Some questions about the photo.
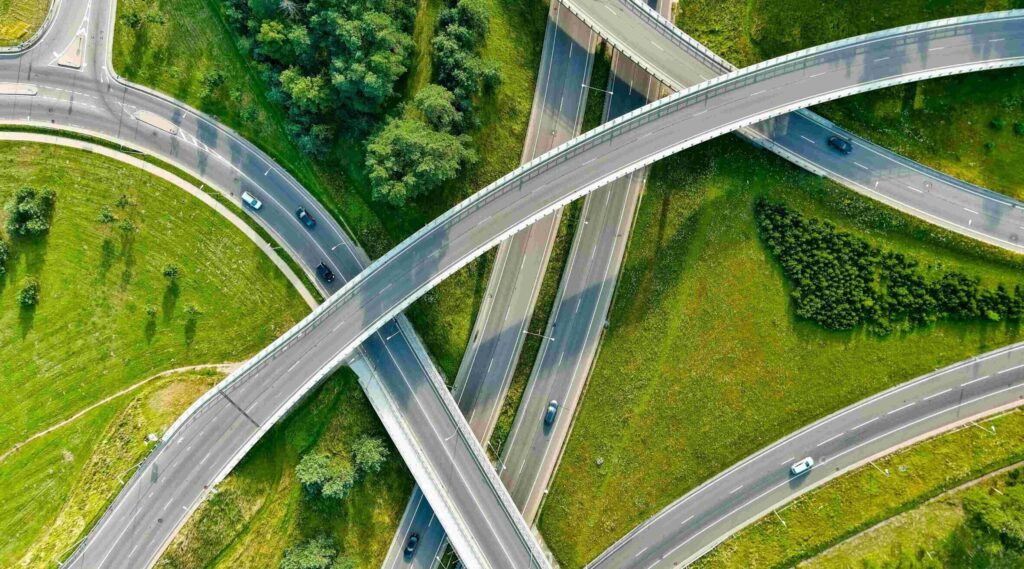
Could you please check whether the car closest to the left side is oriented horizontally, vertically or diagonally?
diagonally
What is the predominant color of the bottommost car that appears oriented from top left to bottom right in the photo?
black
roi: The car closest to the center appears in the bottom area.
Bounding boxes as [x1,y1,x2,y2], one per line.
[544,400,558,425]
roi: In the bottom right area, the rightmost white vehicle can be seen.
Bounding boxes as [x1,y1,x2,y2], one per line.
[790,457,814,475]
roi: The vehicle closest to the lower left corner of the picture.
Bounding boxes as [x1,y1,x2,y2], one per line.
[404,534,420,558]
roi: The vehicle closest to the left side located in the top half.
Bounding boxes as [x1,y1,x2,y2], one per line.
[239,190,263,211]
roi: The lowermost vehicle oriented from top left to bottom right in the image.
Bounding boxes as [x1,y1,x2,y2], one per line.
[315,261,335,283]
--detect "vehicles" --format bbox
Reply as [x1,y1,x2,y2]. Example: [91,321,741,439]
[315,261,335,283]
[790,457,814,475]
[404,534,420,558]
[544,400,558,425]
[295,206,318,229]
[827,136,853,154]
[239,190,263,211]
